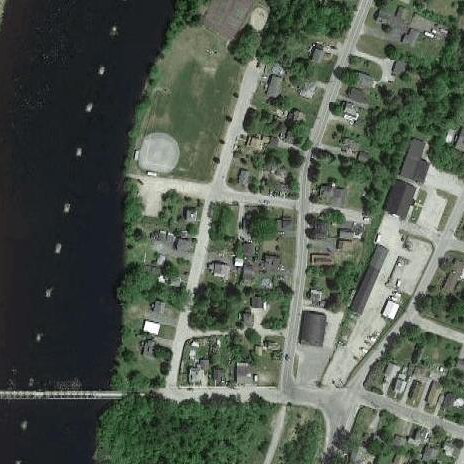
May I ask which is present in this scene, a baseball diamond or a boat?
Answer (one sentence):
There is a baseball diamond in the scene.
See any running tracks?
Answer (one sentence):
No, there appears to be no running track in this shot.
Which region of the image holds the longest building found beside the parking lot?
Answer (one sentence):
The longest building found beside the parking lot sits in the right section of the image.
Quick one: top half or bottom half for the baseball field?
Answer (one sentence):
The baseball field is in the top half of the image.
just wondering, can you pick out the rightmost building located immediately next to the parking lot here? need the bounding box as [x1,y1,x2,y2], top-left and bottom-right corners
[351,246,389,315]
